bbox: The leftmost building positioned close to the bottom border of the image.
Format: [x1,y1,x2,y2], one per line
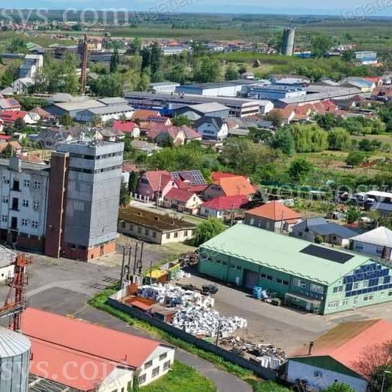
[0,307,180,392]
